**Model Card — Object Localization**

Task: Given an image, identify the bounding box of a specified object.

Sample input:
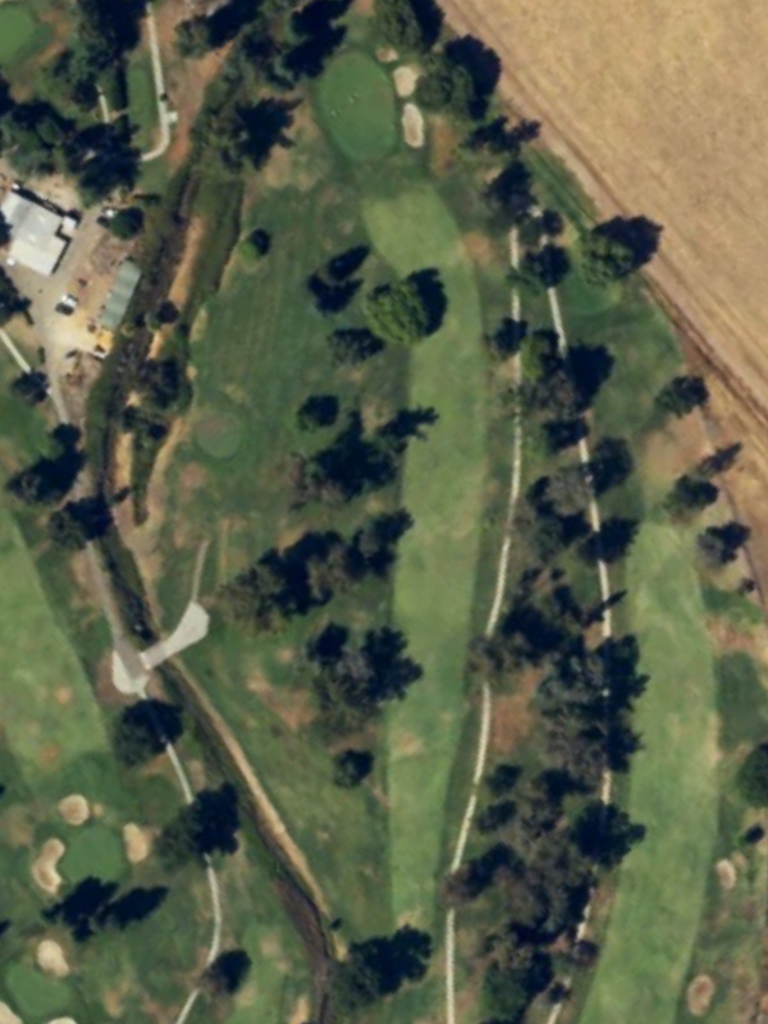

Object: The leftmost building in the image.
[0,191,66,276]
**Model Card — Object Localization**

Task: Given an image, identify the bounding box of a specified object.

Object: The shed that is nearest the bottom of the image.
[101,263,140,328]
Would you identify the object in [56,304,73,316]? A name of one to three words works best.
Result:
vehicle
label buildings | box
[0,191,66,276]
[101,263,140,328]
[60,216,78,235]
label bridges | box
[137,639,175,669]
